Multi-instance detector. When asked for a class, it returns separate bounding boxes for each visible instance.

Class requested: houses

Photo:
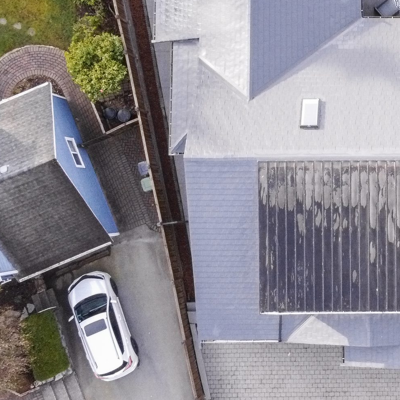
[0,80,134,298]
[149,0,400,369]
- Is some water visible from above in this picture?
No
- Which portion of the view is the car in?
bottom left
